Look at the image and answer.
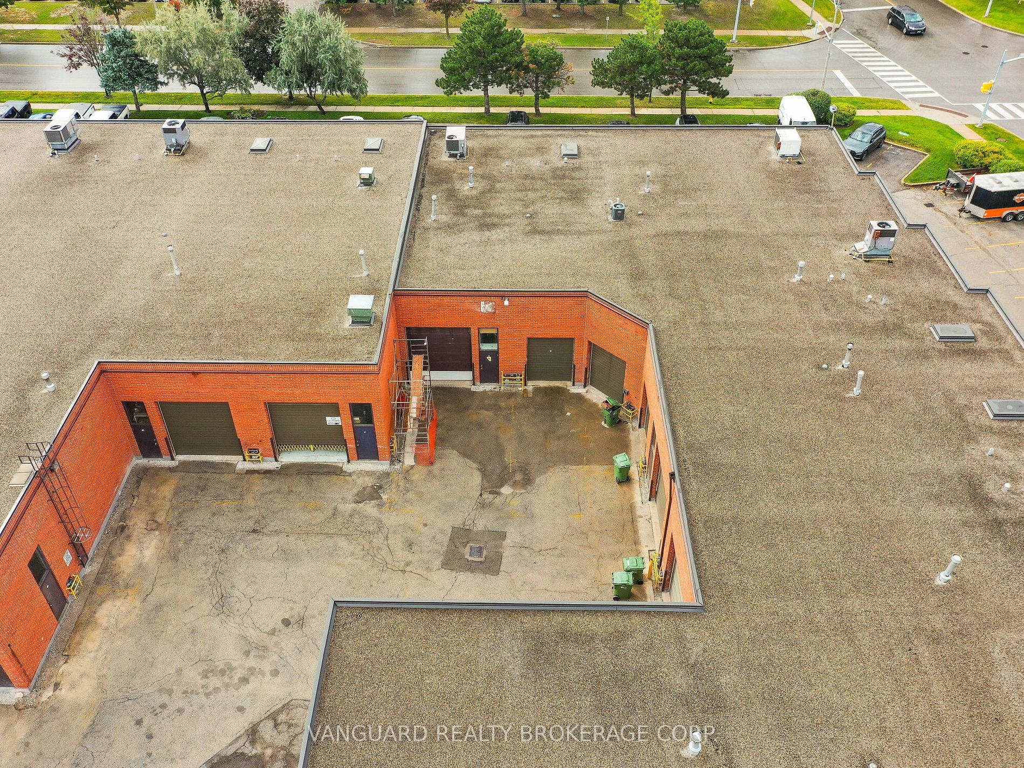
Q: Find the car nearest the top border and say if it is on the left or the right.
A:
right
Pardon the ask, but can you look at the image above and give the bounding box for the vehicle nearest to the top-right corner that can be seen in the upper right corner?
[883,0,932,36]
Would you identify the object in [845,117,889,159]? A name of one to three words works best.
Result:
car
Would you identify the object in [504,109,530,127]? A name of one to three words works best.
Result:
car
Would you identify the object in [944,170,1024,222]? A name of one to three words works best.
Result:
trailer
